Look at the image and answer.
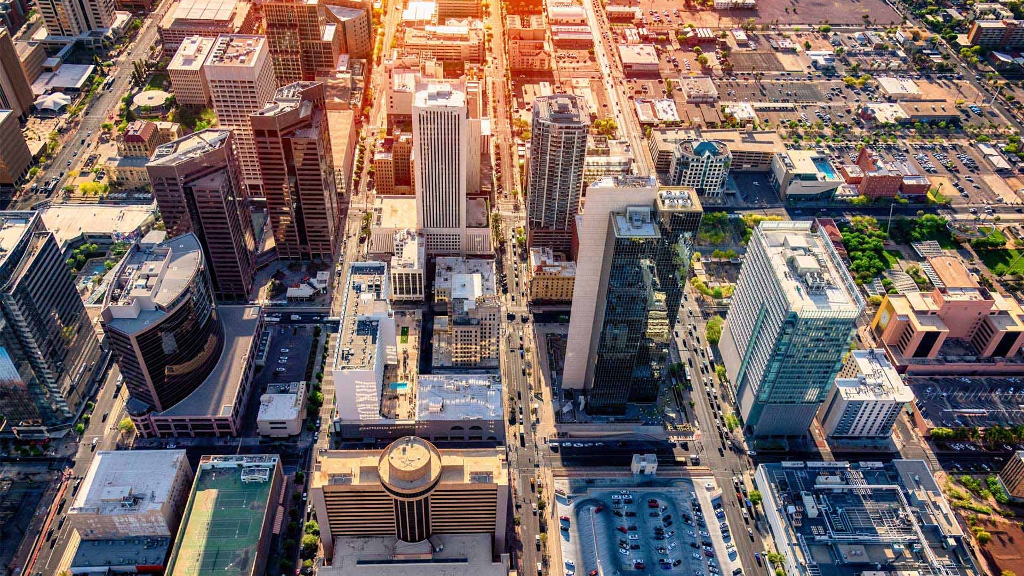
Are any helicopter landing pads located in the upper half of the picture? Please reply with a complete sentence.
No, I can find no helicopter landing pad in the upper half of the picture.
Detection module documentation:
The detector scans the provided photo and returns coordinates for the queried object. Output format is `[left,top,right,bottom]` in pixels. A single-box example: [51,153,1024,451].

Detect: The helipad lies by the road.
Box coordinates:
[389,439,429,471]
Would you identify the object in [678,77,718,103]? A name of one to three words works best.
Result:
building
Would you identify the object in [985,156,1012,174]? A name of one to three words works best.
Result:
house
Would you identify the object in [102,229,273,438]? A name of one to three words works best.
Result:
building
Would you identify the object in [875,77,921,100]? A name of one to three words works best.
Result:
house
